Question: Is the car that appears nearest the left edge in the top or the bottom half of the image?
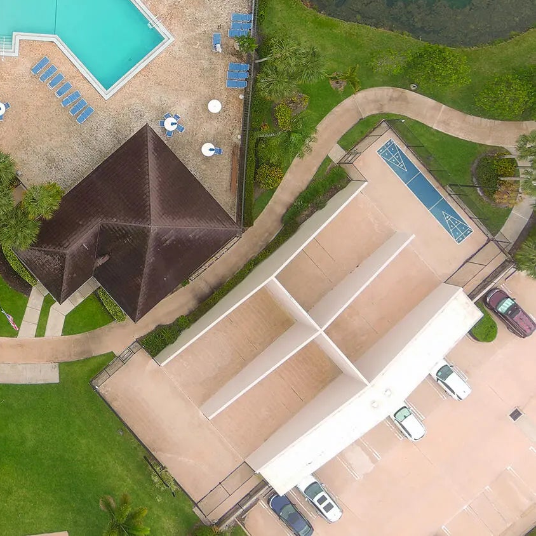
bottom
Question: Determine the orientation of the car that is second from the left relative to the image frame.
on a diagonal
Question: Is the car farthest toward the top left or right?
right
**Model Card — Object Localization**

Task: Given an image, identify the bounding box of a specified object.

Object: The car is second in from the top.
[427,358,471,401]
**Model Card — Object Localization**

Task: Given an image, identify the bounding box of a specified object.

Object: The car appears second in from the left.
[295,474,343,523]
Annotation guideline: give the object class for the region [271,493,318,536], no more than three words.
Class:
car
